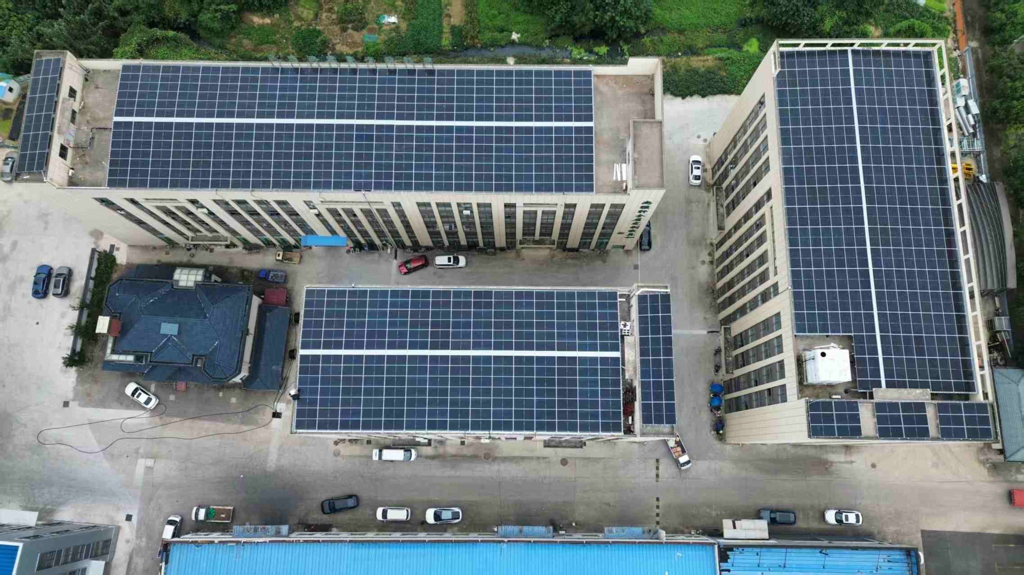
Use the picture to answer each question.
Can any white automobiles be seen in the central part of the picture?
Yes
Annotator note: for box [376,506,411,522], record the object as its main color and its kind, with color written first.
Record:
white car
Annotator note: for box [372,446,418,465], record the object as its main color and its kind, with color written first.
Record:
white vehicle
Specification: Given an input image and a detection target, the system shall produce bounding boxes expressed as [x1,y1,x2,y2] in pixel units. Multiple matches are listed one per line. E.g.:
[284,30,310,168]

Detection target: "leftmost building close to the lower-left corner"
[0,511,120,575]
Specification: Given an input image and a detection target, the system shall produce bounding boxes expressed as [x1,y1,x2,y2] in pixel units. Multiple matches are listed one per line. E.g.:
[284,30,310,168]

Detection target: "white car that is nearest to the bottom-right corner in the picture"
[823,508,863,526]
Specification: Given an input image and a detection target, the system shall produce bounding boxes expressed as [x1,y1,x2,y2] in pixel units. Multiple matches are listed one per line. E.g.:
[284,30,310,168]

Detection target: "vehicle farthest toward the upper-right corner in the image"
[687,156,703,187]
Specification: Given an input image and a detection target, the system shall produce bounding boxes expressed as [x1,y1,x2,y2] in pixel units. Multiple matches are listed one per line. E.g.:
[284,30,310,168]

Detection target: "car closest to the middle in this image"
[434,254,467,270]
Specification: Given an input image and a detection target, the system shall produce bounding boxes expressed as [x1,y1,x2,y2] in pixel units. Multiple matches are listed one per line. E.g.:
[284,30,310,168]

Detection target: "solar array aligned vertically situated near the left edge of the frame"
[17,57,61,172]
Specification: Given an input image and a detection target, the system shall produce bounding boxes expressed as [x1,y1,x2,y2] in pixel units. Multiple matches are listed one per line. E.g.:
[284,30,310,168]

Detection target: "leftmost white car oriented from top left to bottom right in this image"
[123,378,164,414]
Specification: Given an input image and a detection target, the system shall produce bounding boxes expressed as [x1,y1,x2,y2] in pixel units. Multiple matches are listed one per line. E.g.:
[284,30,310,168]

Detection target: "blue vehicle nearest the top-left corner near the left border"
[31,264,55,300]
